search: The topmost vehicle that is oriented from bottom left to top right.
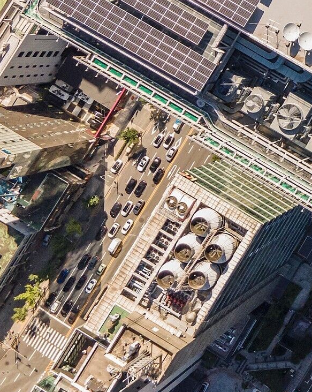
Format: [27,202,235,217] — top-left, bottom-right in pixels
[168,113,186,133]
